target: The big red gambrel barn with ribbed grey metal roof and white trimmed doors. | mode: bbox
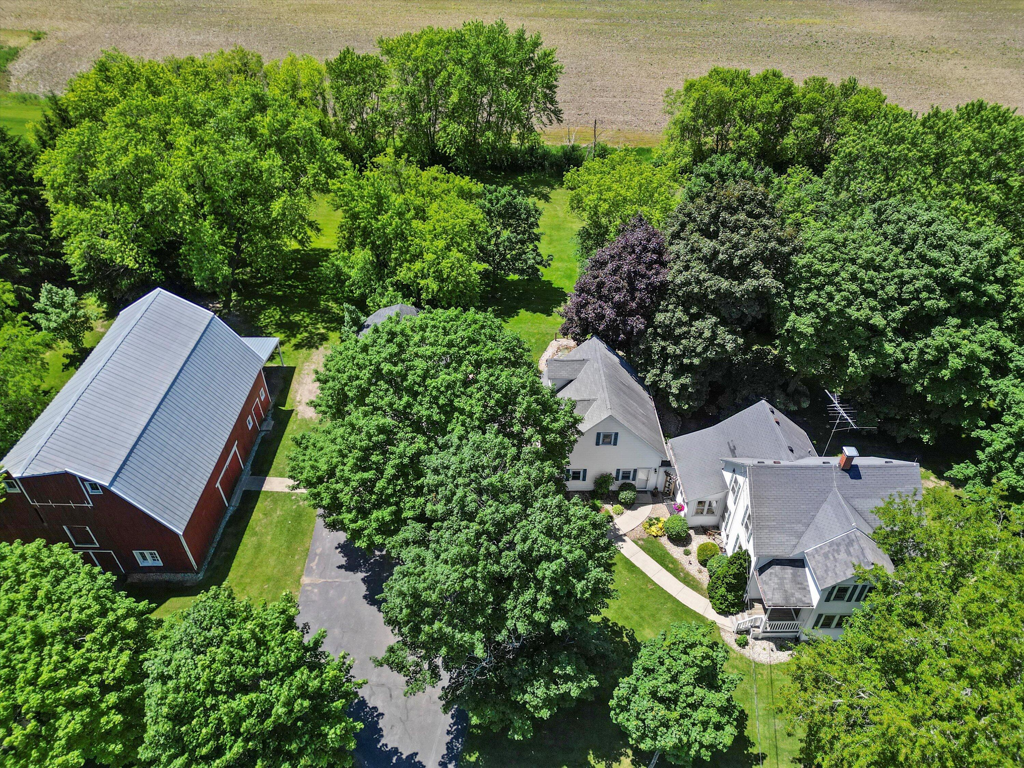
[0,287,286,574]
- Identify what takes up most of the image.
trees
